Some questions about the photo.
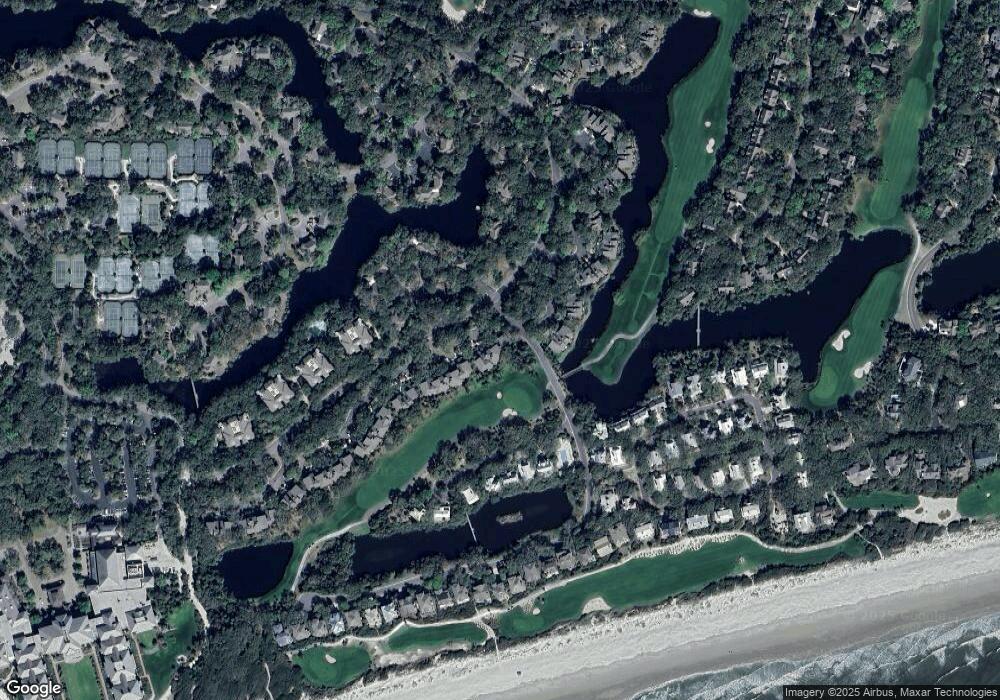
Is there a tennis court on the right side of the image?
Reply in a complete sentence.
No, I see no tennis court on the right side of the image.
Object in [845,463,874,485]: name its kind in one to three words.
house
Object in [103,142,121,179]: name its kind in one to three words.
tennis court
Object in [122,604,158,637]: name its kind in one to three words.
building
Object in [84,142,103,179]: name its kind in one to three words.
tennis court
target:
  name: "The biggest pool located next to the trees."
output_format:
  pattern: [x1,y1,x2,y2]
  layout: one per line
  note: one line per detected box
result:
[557,443,571,467]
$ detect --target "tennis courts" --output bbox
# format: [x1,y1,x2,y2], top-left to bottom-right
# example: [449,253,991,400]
[142,193,164,232]
[203,234,220,266]
[186,234,203,265]
[53,253,69,289]
[121,301,139,339]
[176,138,194,174]
[130,143,148,179]
[116,257,134,294]
[57,140,75,176]
[97,257,116,294]
[141,259,159,294]
[159,257,176,292]
[104,301,121,339]
[194,138,213,175]
[84,142,103,179]
[69,253,86,289]
[117,193,140,232]
[148,143,168,180]
[38,139,57,175]
[196,182,212,217]
[103,142,121,179]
